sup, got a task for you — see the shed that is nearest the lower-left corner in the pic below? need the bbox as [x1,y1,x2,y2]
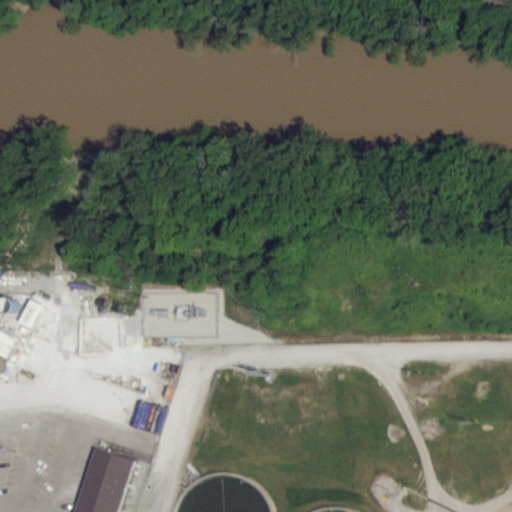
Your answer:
[78,447,137,512]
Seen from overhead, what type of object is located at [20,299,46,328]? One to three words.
shed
